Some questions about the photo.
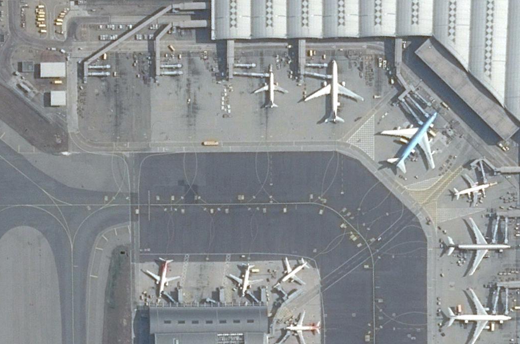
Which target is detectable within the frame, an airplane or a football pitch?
airplane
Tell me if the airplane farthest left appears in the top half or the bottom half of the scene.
bottom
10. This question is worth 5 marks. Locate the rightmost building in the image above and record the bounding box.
[415,37,520,144]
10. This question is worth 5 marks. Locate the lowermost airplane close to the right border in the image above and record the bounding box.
[449,289,511,344]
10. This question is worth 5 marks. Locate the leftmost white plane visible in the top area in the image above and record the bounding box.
[255,65,288,107]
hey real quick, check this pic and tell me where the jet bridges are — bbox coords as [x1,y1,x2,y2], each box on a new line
[305,70,333,79]
[88,71,111,77]
[206,297,218,304]
[160,62,184,69]
[406,92,429,117]
[492,216,501,243]
[277,331,290,344]
[161,292,178,304]
[401,98,422,124]
[160,70,184,76]
[492,287,501,315]
[278,285,290,299]
[234,62,257,68]
[305,62,328,69]
[246,291,261,304]
[503,216,509,244]
[503,287,509,315]
[413,88,431,106]
[481,163,489,183]
[88,63,111,70]
[234,70,269,78]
